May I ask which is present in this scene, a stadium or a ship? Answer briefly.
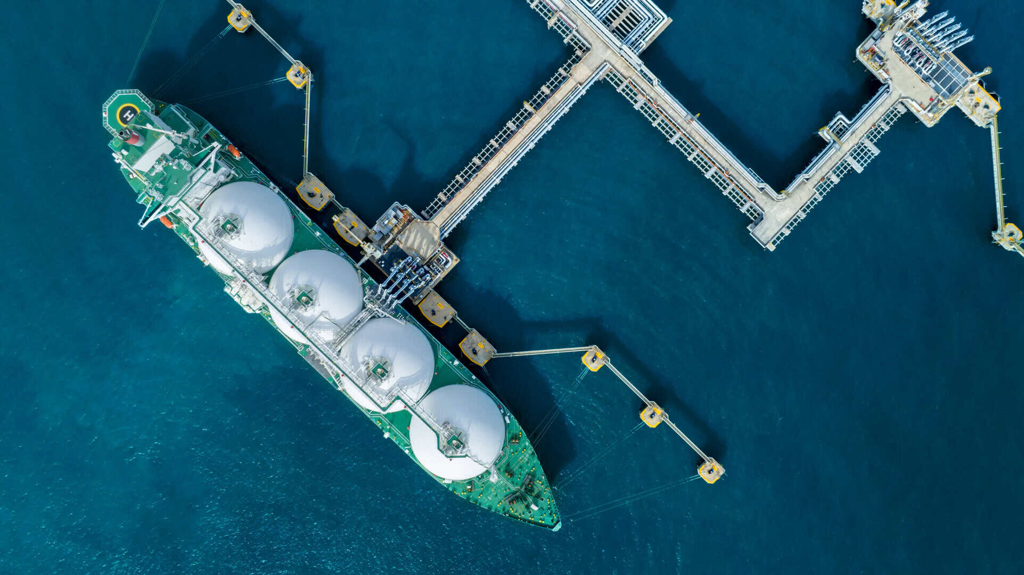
ship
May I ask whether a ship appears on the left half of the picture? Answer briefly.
Yes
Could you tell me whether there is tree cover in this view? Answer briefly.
No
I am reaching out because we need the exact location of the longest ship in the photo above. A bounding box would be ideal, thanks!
[103,89,561,533]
